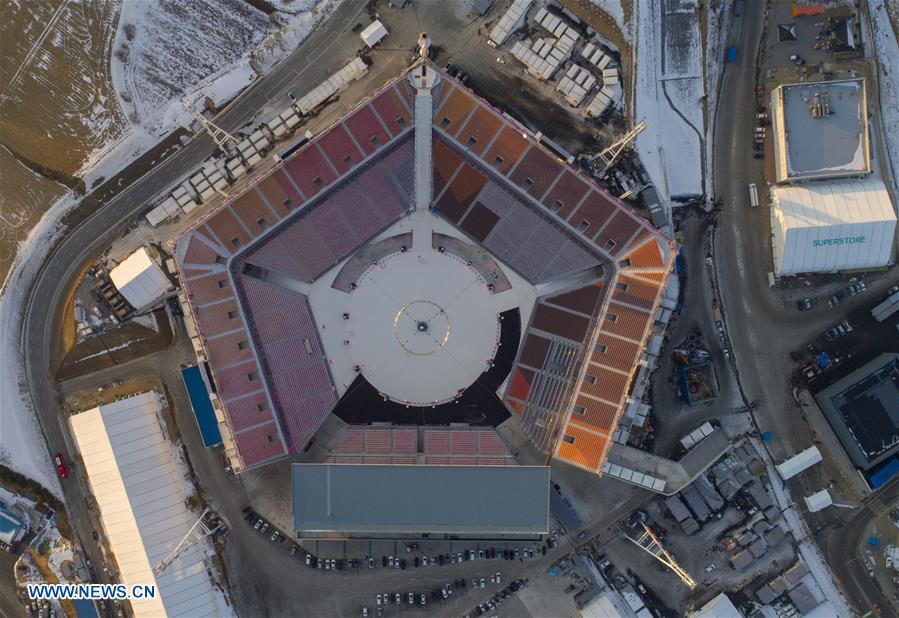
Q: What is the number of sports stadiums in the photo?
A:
one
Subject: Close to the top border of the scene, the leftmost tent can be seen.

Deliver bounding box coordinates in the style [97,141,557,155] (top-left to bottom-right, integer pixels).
[360,20,389,51]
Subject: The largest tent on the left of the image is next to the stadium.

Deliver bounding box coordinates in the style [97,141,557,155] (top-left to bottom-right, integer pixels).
[110,247,176,309]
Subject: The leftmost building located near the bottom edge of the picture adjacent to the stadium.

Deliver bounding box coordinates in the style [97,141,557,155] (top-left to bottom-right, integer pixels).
[69,390,228,618]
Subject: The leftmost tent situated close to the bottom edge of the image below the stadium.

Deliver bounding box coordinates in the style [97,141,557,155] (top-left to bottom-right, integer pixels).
[573,589,622,618]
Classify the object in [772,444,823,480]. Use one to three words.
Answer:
tent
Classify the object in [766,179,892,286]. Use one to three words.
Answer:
building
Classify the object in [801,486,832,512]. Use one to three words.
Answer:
tent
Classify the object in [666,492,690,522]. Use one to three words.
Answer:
building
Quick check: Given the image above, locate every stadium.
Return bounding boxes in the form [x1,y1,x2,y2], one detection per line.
[169,56,675,540]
